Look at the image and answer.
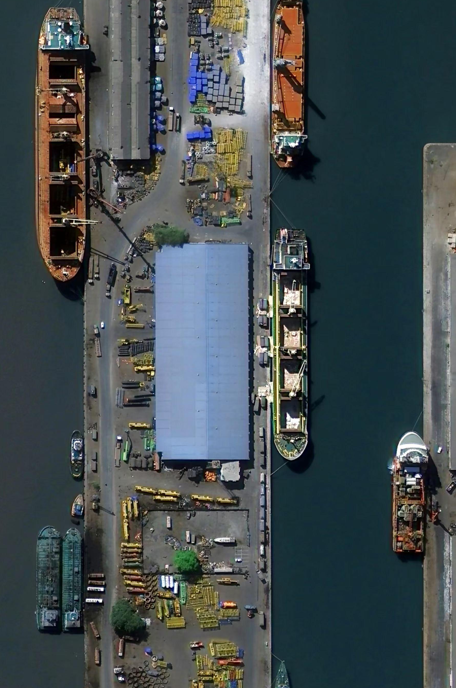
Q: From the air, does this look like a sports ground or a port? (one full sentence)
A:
It's a port.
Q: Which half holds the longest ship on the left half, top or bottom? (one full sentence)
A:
The top half of the photo is where the longest ship on the left half is.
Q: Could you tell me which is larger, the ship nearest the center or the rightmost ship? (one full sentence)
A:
Compared with the rightmost ship, the ship nearest the center is the larger one.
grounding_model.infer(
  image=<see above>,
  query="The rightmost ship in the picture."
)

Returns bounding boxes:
[388,432,428,552]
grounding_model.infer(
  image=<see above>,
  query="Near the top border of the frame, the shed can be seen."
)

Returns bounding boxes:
[108,0,150,159]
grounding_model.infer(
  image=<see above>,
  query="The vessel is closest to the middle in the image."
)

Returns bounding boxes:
[270,229,310,461]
